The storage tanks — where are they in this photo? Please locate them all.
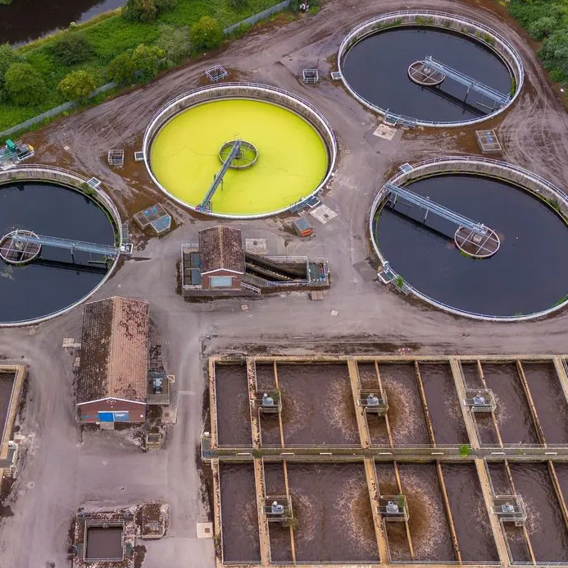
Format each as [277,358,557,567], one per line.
[141,81,338,220]
[0,164,129,328]
[338,10,525,129]
[371,157,568,324]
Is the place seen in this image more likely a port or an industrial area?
industrial area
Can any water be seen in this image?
Yes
